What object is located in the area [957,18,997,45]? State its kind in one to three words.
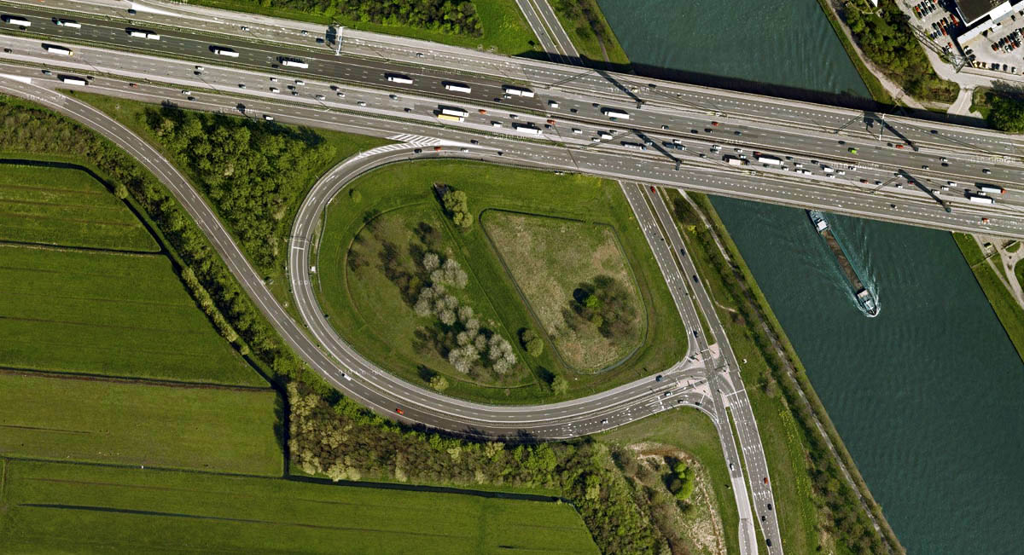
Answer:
building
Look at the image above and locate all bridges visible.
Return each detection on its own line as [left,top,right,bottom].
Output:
[509,53,1024,243]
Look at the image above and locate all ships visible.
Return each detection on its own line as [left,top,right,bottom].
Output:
[807,213,876,318]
